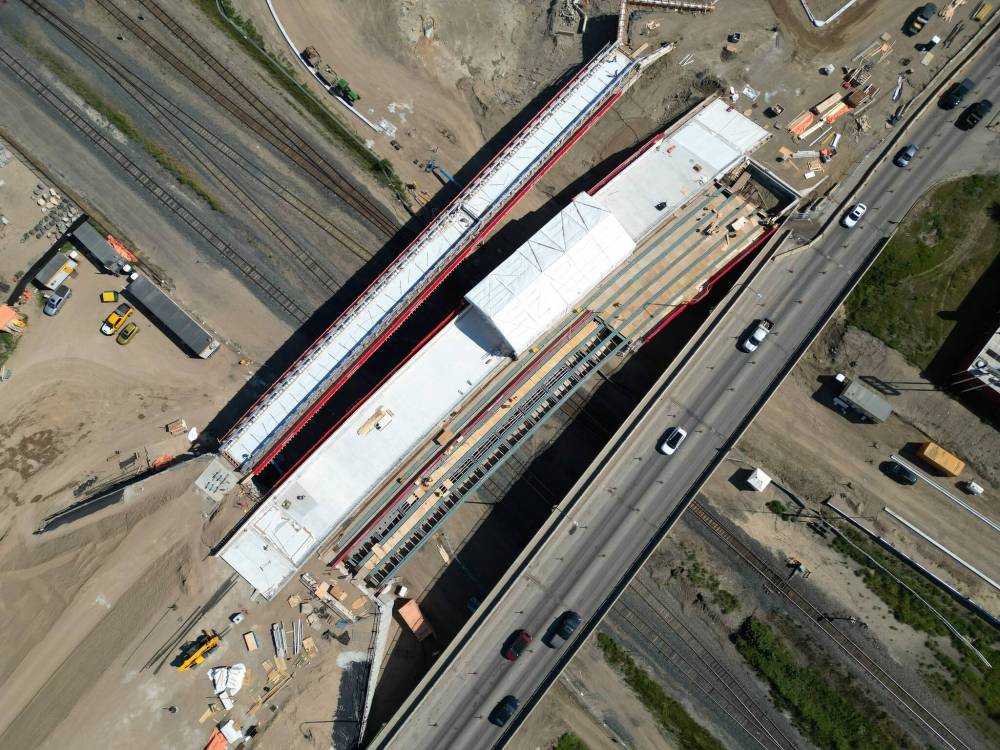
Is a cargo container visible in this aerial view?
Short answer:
Yes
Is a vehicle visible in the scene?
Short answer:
Yes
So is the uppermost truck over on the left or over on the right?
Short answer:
right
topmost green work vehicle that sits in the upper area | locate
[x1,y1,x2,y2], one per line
[334,73,360,102]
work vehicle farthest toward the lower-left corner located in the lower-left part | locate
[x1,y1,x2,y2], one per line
[174,623,225,674]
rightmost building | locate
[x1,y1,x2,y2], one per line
[950,302,1000,408]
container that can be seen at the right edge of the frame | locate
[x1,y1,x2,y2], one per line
[913,440,966,477]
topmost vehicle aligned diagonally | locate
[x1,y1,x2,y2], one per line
[908,0,940,35]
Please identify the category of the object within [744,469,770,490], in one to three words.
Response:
shed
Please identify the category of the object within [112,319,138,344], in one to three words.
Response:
car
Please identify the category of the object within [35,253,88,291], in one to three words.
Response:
building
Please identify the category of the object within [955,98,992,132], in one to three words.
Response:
truck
